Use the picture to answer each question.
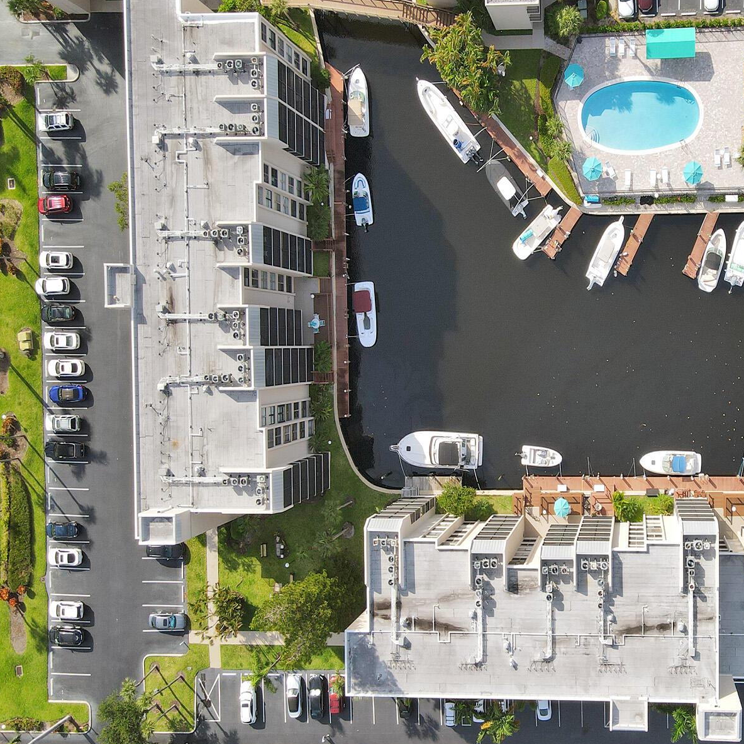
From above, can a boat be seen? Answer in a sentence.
Yes, the frame does contain a boat.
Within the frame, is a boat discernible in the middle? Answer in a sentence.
Yes, you'll find a boat in the middle.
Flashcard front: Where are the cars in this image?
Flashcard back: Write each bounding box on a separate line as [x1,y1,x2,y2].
[46,521,83,541]
[50,600,87,621]
[638,0,653,8]
[48,548,85,568]
[45,331,83,351]
[146,542,185,562]
[703,0,719,9]
[538,699,553,723]
[38,195,75,215]
[285,674,304,718]
[498,699,513,715]
[45,170,83,191]
[239,680,258,724]
[397,697,414,722]
[308,676,327,719]
[41,250,74,269]
[618,0,633,13]
[46,414,84,434]
[42,304,77,323]
[149,612,187,632]
[39,112,77,133]
[35,276,73,296]
[50,626,87,647]
[50,358,87,378]
[52,384,86,404]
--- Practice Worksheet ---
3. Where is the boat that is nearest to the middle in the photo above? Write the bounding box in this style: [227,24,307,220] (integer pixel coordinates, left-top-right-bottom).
[354,282,378,347]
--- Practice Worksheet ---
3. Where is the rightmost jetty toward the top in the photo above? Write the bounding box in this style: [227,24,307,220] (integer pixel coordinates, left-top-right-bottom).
[683,212,719,278]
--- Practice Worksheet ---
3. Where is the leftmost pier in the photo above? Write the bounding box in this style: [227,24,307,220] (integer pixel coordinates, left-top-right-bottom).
[324,62,350,417]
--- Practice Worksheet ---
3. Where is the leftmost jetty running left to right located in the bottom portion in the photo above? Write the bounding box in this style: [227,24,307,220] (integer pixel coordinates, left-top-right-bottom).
[406,476,462,492]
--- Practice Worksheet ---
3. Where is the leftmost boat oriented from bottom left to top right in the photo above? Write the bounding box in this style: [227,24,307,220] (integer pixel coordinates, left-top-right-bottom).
[516,197,568,258]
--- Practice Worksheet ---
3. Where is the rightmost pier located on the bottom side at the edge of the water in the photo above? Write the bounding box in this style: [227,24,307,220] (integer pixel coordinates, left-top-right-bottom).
[524,476,744,492]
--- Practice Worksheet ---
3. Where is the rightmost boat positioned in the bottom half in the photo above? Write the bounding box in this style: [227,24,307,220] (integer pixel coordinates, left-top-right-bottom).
[640,450,703,475]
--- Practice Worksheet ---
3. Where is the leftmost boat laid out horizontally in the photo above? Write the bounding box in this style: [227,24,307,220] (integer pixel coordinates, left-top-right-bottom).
[388,433,485,469]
